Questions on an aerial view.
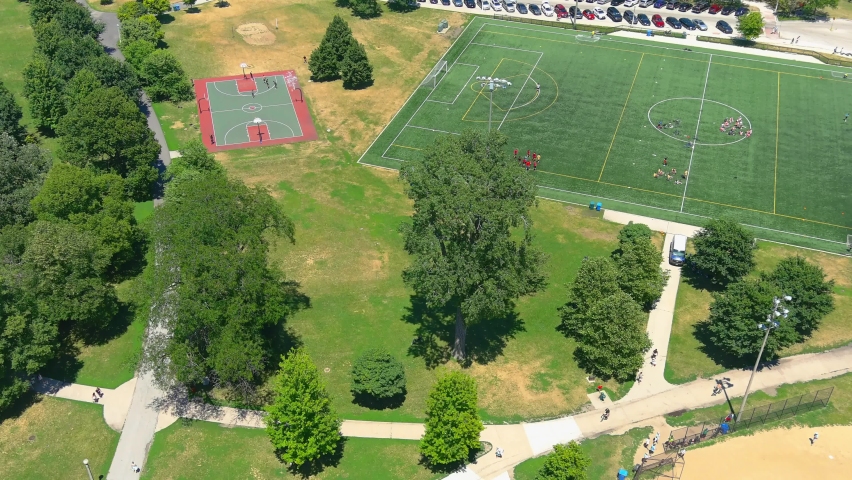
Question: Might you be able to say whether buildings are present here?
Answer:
No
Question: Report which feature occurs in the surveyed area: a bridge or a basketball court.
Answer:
basketball court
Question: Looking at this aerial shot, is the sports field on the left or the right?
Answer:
right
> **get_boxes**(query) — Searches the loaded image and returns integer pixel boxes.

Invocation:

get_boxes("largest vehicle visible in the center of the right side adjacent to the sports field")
[672,230,690,264]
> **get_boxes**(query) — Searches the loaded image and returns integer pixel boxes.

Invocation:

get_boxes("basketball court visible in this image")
[193,70,319,151]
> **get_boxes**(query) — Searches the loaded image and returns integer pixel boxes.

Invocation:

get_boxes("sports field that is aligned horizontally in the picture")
[366,17,852,244]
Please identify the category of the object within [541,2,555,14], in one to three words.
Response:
vehicle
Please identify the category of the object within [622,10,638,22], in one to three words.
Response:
vehicle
